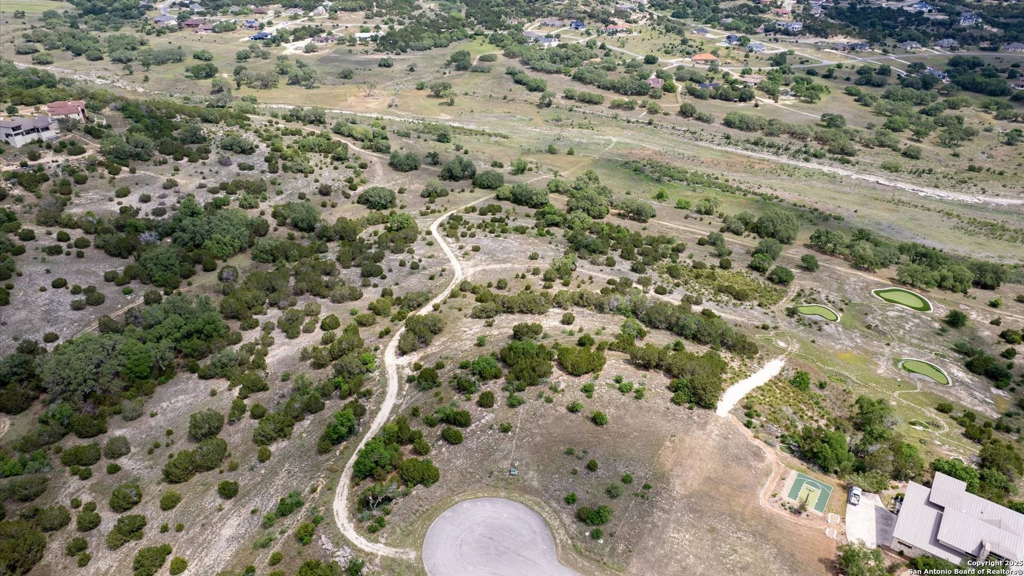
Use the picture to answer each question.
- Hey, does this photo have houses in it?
Yes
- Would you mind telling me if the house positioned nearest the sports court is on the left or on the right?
right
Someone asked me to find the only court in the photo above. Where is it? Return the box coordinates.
[788,472,832,512]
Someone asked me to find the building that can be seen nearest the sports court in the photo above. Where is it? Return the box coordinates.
[890,472,1024,576]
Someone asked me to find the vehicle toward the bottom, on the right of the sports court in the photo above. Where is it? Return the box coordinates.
[848,486,861,509]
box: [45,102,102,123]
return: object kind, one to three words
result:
house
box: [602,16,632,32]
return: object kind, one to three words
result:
house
